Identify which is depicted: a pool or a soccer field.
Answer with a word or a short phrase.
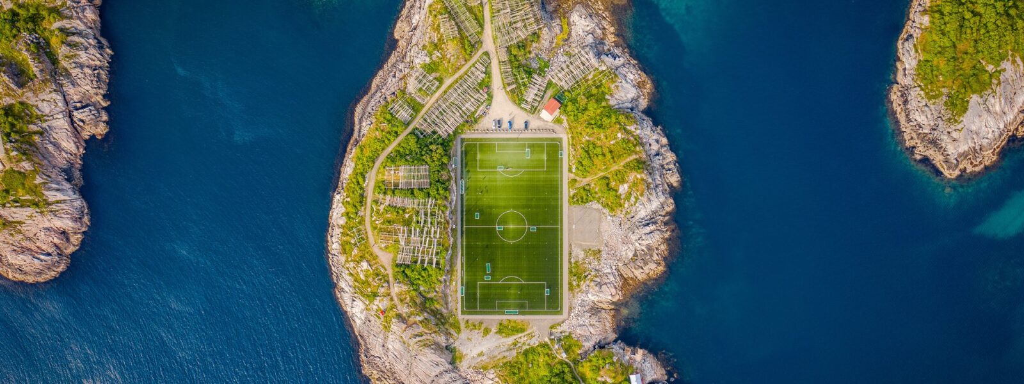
soccer field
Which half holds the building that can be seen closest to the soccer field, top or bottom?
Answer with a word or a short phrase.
top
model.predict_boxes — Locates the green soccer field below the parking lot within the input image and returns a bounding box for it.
[460,137,563,315]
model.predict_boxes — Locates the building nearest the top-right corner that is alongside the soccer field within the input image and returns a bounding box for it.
[538,98,561,125]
